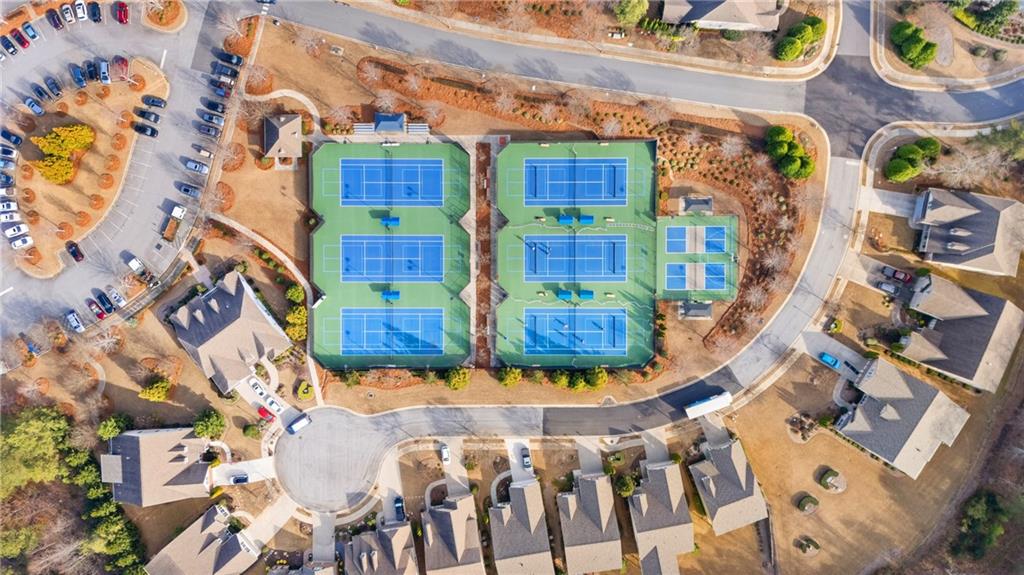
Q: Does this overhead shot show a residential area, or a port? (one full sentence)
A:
The area seen from above is a residential area.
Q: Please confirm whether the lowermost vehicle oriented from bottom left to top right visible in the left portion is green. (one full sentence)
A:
No, from above the lowermost vehicle oriented from bottom left to top right visible in the left portion looks white.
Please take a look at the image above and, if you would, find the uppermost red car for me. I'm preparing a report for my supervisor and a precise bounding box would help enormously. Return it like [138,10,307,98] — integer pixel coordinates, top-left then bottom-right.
[117,3,130,25]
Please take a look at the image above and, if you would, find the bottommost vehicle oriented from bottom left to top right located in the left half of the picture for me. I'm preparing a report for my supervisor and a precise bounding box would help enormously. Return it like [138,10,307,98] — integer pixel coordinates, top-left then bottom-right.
[287,414,313,434]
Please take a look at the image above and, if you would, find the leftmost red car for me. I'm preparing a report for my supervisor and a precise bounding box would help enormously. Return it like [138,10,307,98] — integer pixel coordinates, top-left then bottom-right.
[12,29,31,49]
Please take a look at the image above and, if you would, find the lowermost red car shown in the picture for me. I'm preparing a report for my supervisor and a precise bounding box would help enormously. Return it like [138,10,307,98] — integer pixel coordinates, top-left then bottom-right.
[257,405,276,424]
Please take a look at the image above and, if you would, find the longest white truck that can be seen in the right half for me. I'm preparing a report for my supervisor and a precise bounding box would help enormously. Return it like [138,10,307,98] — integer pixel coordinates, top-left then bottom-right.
[677,389,730,418]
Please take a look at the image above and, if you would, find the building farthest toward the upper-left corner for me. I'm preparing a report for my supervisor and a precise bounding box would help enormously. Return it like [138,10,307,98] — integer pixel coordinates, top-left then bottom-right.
[264,115,304,160]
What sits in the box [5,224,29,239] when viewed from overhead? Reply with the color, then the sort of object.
white car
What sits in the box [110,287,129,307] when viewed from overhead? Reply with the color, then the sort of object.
white car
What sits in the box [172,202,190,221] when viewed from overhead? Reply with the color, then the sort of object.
white vehicle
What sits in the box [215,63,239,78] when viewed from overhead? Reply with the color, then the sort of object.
blue vehicle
